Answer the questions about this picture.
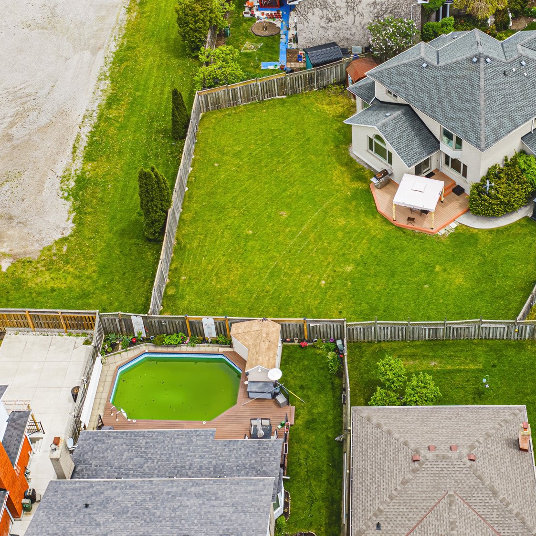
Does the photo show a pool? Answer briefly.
Yes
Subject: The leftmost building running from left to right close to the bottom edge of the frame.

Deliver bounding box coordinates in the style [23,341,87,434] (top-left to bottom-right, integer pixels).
[24,429,290,536]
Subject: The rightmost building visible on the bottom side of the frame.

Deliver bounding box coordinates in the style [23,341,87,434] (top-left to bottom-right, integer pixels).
[348,404,536,536]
